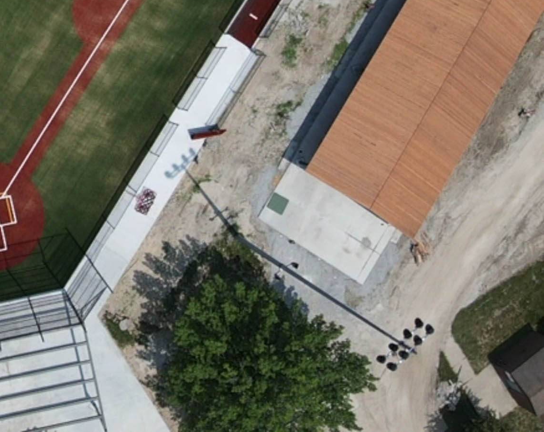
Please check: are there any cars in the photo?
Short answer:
No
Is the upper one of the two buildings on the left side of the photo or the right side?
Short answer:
right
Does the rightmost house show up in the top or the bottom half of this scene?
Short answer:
bottom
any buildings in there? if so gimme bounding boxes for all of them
[299,0,544,238]
[495,325,544,425]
